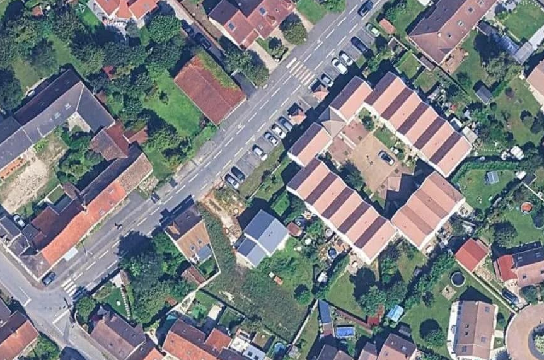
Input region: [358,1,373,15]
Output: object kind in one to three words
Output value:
car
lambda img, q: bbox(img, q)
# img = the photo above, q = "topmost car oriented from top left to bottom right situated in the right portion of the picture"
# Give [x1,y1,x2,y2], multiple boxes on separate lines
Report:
[366,23,380,36]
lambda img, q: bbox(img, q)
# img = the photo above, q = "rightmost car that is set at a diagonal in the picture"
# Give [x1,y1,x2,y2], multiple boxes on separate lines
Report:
[503,290,516,304]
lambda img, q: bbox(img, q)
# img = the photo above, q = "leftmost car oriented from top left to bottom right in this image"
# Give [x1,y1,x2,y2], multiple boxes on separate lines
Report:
[13,213,26,229]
